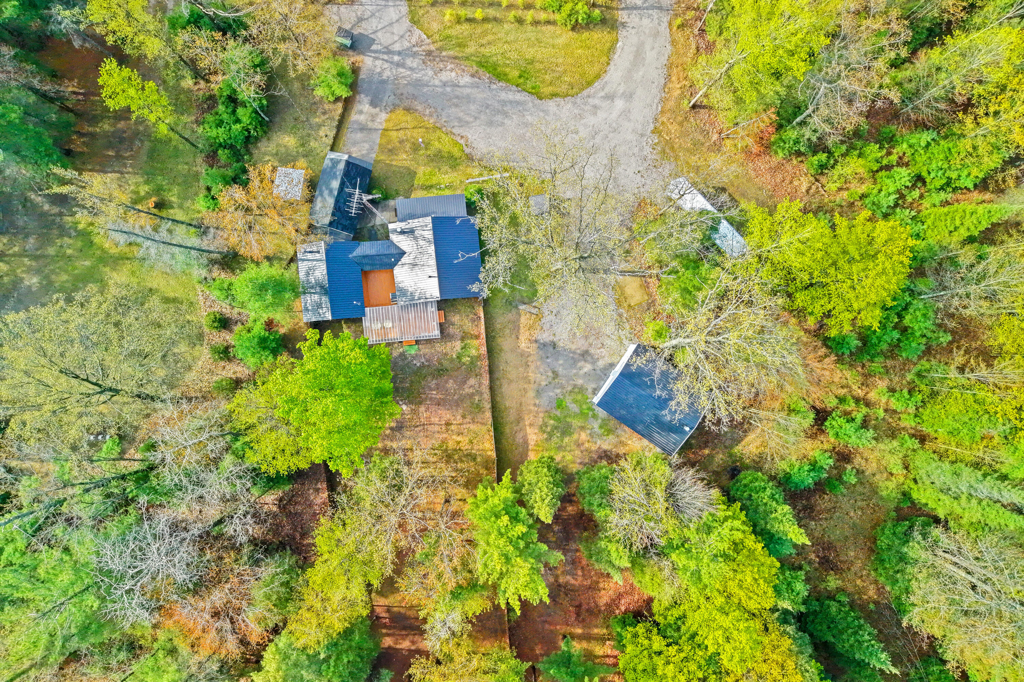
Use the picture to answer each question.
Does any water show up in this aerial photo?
No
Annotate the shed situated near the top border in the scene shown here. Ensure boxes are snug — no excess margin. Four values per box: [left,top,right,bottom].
[333,20,357,49]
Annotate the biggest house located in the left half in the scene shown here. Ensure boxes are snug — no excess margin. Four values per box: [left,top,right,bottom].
[296,193,483,323]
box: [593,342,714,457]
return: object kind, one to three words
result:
building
